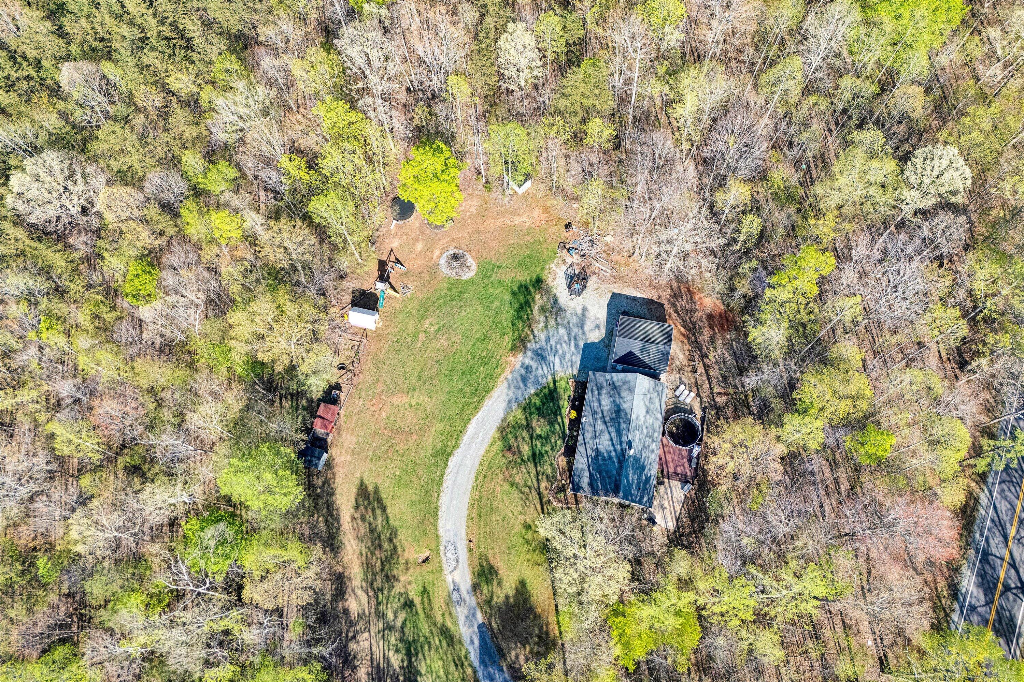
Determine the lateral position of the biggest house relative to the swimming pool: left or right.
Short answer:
to the left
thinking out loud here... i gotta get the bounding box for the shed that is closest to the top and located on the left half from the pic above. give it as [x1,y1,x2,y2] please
[350,307,381,326]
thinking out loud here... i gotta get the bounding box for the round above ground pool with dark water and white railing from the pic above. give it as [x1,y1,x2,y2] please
[663,412,703,451]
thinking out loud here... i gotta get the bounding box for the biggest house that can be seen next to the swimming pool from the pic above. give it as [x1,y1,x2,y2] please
[569,371,668,509]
